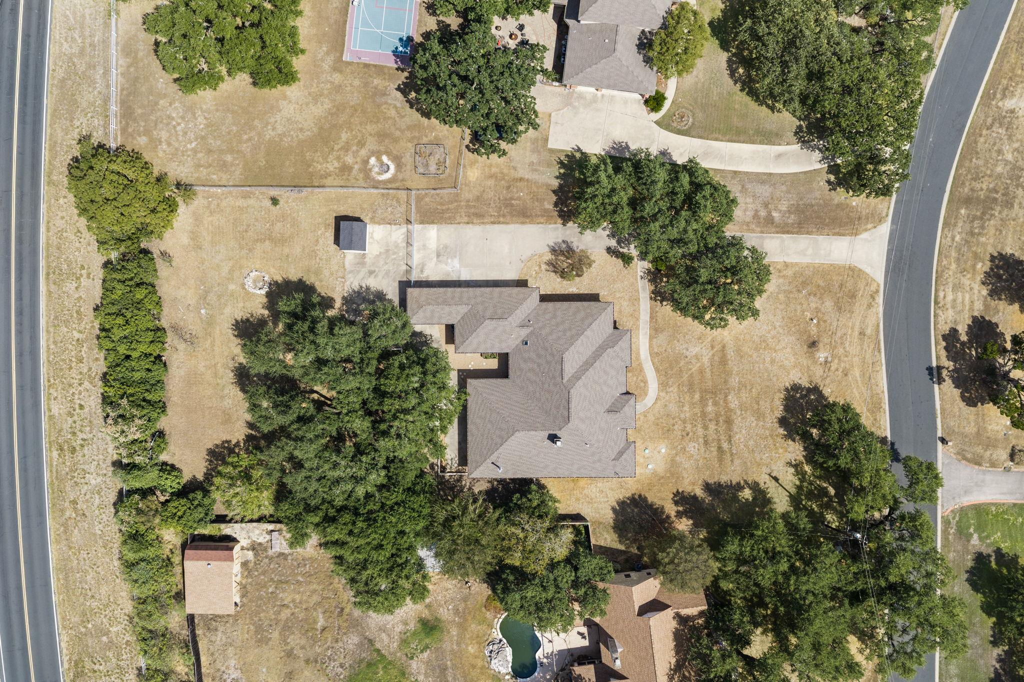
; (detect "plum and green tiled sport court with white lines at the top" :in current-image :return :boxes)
[343,0,422,69]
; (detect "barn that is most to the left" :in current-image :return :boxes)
[181,541,240,614]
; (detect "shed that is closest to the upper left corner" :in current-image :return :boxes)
[340,220,371,252]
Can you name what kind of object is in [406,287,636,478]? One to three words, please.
house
